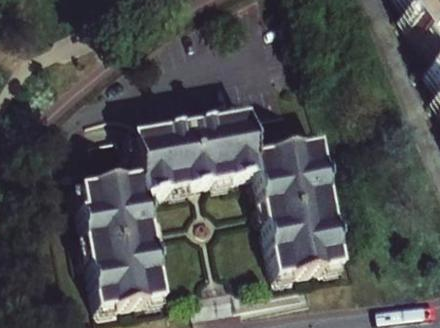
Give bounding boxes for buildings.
[394,0,440,122]
[74,108,350,326]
